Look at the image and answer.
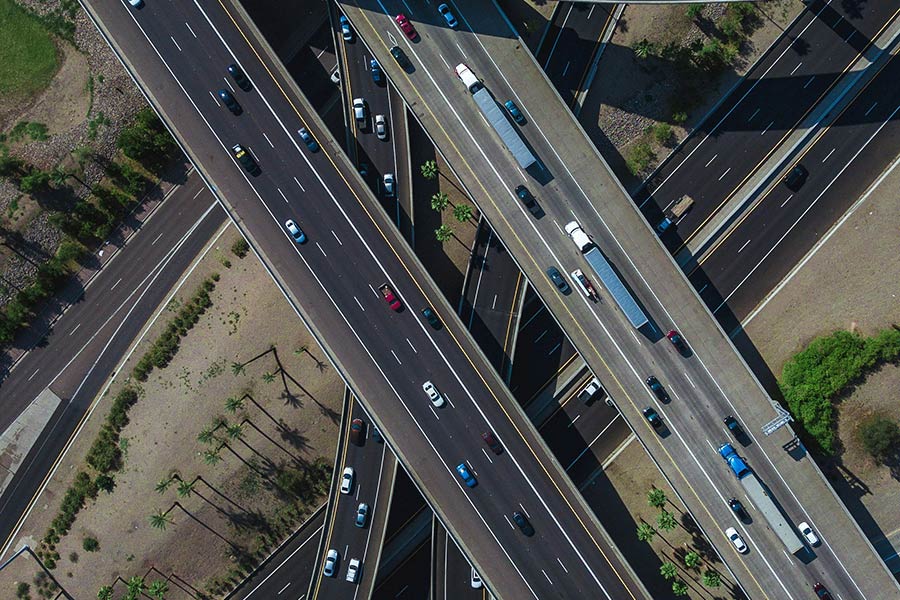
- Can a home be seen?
No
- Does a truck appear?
Yes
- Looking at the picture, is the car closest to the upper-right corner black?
Yes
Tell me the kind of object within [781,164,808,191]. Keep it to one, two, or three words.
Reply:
car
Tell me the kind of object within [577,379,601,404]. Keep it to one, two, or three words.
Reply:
truck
